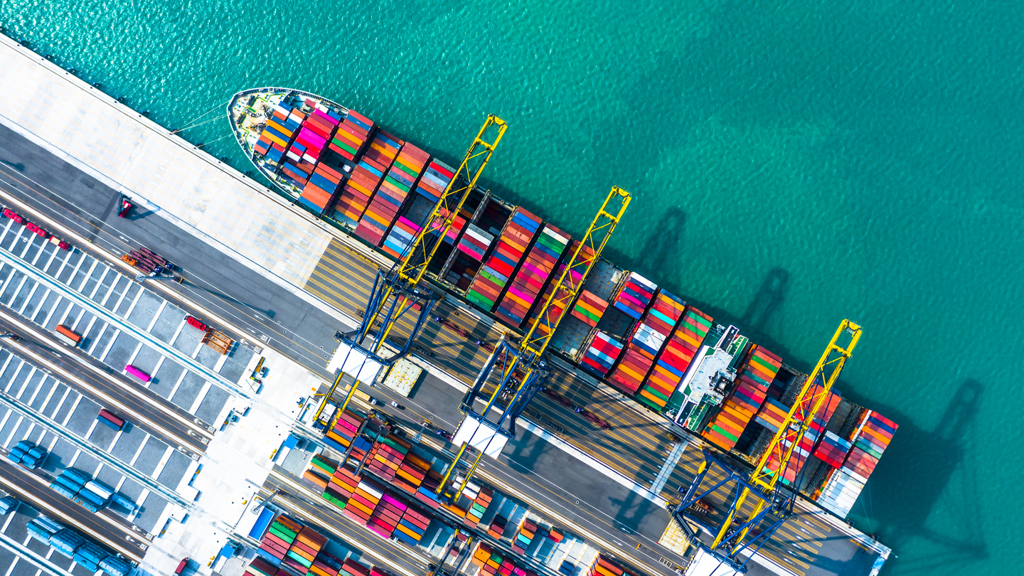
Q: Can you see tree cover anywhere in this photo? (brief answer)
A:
No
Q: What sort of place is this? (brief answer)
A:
port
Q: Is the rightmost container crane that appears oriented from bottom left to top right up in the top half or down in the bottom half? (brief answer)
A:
bottom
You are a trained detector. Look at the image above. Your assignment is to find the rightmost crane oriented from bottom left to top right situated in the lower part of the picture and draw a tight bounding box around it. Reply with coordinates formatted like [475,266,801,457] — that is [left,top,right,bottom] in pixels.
[661,320,862,576]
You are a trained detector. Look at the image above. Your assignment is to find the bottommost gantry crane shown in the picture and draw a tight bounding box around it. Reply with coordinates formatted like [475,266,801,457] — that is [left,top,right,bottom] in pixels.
[428,518,475,576]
